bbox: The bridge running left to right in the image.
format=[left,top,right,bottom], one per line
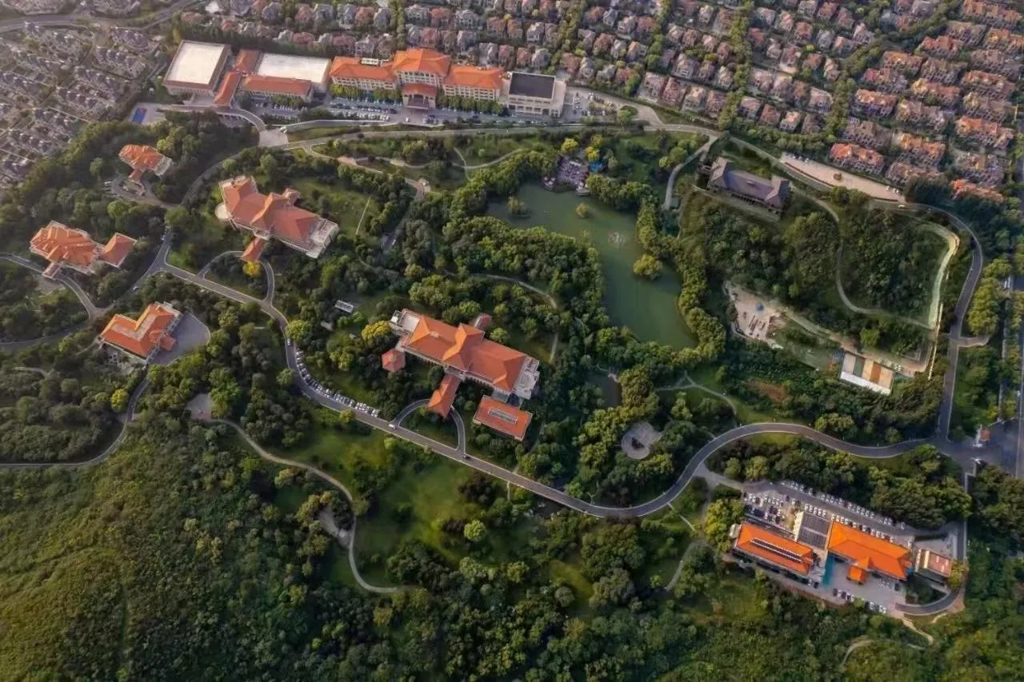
[157,102,265,133]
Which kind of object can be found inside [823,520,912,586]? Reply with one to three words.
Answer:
building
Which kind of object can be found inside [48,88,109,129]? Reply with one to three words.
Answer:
house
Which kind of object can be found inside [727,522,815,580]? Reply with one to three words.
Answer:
building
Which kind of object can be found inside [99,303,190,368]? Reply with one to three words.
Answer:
house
